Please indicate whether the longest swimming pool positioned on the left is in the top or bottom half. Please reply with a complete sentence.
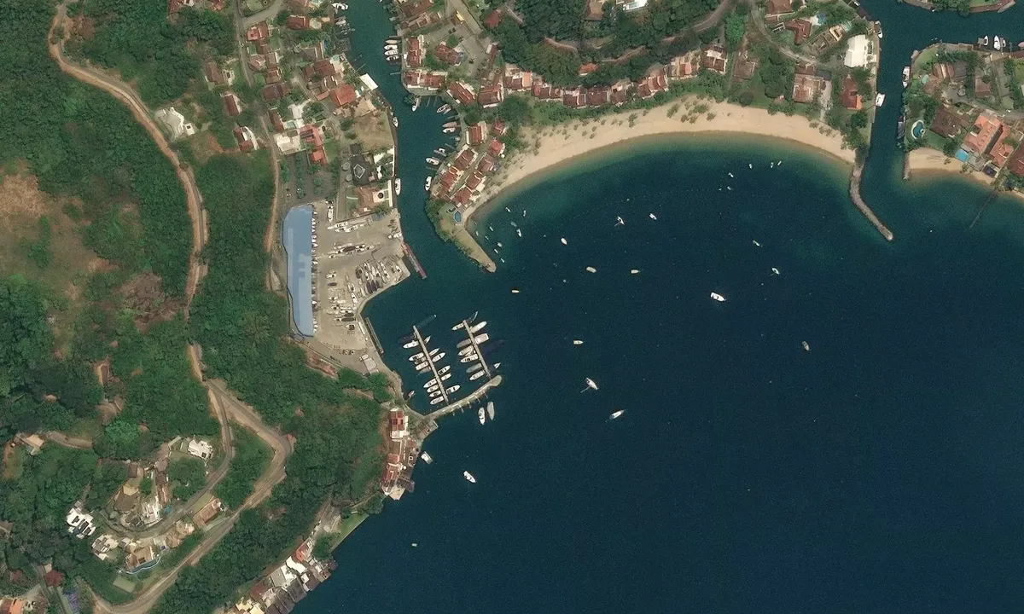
The longest swimming pool positioned on the left is in the bottom half of the image.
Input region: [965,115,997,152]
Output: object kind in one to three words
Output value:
house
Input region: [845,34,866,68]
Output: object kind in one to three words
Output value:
building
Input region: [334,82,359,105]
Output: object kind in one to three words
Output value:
house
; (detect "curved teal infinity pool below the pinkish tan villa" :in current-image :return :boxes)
[127,555,162,576]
